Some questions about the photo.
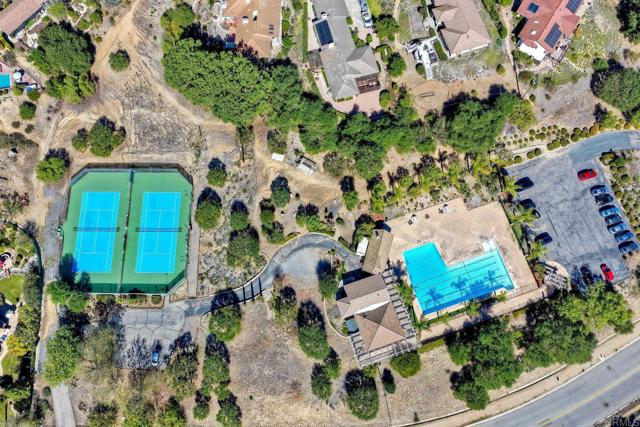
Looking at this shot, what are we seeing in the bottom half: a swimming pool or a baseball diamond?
swimming pool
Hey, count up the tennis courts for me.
2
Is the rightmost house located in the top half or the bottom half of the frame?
top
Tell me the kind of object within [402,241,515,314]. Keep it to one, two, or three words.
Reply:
swimming pool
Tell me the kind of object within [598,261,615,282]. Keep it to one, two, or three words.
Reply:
car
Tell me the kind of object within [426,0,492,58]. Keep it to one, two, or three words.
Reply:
house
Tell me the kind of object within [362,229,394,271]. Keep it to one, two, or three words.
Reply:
building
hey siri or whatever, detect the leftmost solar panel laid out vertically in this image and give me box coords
[316,20,330,46]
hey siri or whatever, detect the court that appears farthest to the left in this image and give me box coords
[61,171,131,291]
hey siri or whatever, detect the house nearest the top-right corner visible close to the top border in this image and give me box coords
[514,0,582,53]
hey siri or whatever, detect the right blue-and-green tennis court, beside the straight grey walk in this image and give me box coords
[120,171,191,291]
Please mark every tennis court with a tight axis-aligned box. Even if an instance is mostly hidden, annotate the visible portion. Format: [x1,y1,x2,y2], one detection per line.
[120,171,191,291]
[61,171,131,291]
